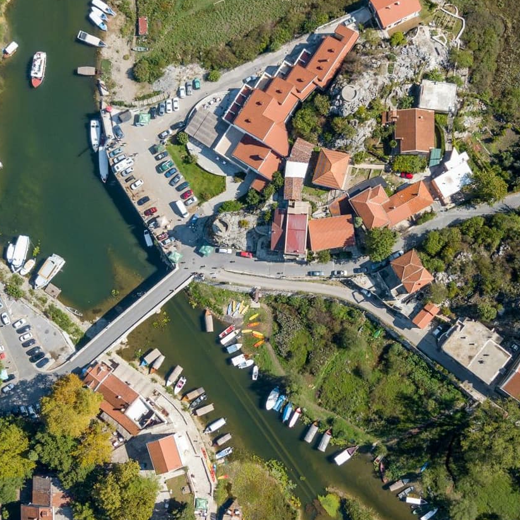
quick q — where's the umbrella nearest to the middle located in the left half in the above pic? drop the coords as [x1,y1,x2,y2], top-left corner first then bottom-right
[198,242,213,257]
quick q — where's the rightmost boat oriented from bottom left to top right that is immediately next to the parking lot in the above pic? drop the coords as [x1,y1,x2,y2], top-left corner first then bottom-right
[36,249,65,288]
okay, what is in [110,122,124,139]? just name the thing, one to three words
car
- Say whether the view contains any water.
Yes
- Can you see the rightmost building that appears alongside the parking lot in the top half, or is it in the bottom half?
bottom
